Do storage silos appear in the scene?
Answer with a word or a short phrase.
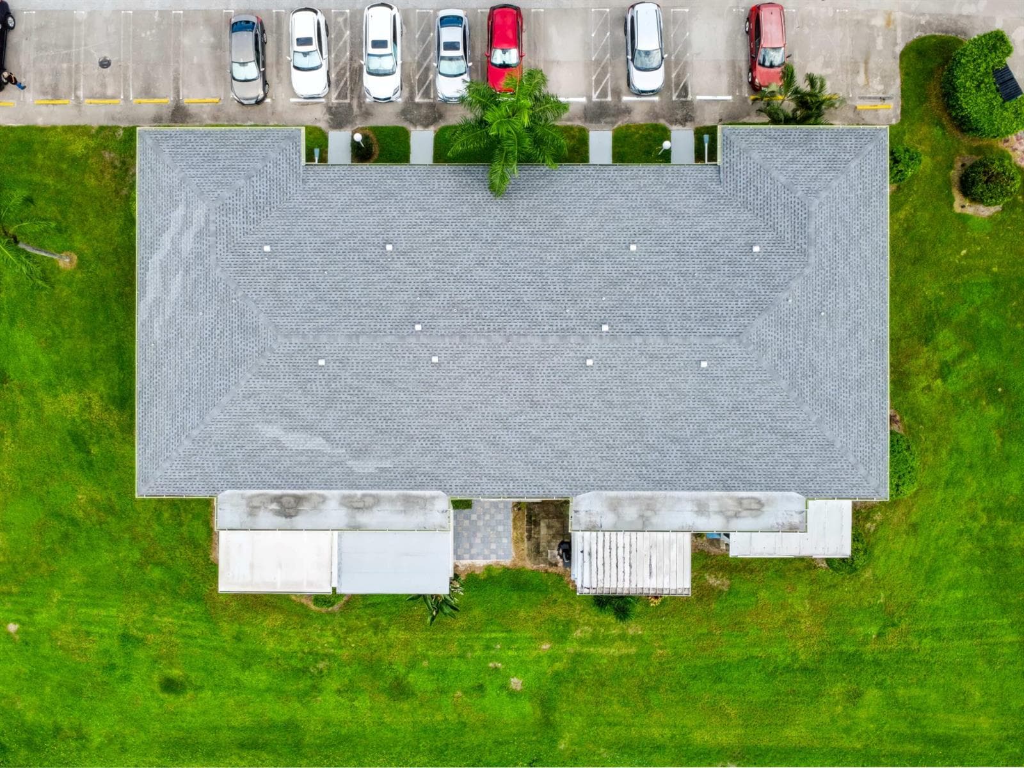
No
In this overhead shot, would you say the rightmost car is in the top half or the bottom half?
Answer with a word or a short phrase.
top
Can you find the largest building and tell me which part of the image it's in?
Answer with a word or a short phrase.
center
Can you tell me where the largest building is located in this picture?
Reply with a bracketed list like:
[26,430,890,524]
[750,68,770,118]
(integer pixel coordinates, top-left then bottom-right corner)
[136,127,889,533]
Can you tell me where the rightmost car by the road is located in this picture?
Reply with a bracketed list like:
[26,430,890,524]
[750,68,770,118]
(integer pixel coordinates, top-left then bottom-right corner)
[744,6,791,94]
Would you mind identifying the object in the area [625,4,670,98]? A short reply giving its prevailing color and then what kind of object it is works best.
white car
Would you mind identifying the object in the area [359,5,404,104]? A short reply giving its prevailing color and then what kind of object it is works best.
white car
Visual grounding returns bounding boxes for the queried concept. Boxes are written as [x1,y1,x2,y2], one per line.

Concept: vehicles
[625,4,670,98]
[431,8,474,105]
[0,1,13,93]
[744,6,791,94]
[483,8,527,96]
[224,14,270,108]
[285,9,330,101]
[359,5,404,104]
